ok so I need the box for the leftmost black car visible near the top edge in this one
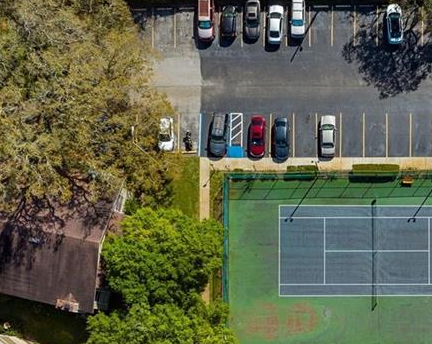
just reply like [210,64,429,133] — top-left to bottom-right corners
[219,4,237,42]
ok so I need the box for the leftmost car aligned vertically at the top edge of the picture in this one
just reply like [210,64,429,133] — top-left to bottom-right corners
[196,0,216,43]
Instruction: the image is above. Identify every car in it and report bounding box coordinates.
[156,117,175,153]
[248,116,267,158]
[288,0,307,40]
[196,0,216,43]
[271,117,290,161]
[208,112,228,158]
[266,5,284,46]
[242,0,261,41]
[219,4,237,42]
[318,115,337,158]
[385,3,402,46]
